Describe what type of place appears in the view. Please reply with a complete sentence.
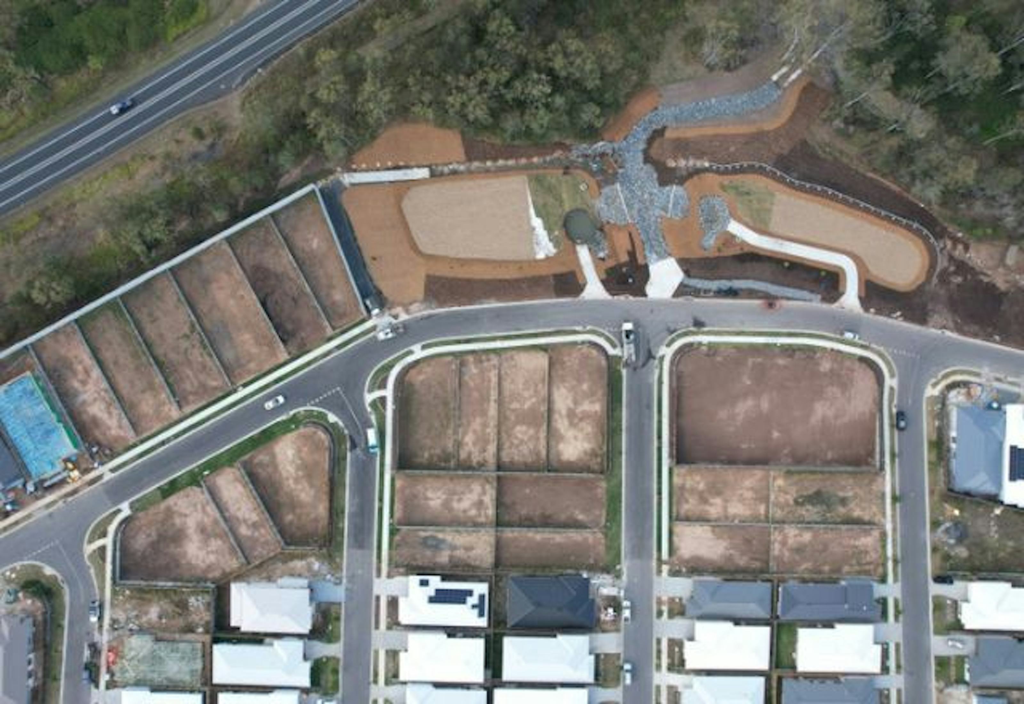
This image shows a residential area.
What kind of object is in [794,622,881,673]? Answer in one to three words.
house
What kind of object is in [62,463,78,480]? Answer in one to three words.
work vehicle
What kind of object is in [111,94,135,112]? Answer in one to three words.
car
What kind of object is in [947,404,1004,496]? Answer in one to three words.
house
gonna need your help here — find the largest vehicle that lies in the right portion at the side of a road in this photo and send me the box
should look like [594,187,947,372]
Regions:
[623,322,636,363]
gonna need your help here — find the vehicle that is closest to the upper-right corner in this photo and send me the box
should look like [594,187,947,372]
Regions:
[840,328,864,343]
